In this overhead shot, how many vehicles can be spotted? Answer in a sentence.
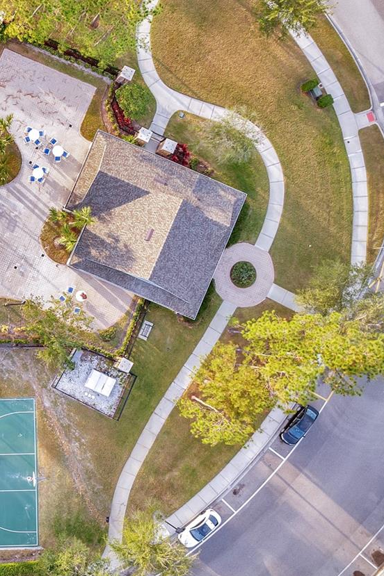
There are 2 vehicles in the image.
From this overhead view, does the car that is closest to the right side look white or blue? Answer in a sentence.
From above, the car that is closest to the right side appears blue.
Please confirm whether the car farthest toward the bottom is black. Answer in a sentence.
No, the car farthest toward the bottom is white.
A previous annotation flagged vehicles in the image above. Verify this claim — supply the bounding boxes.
[282,401,322,447]
[179,509,224,550]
